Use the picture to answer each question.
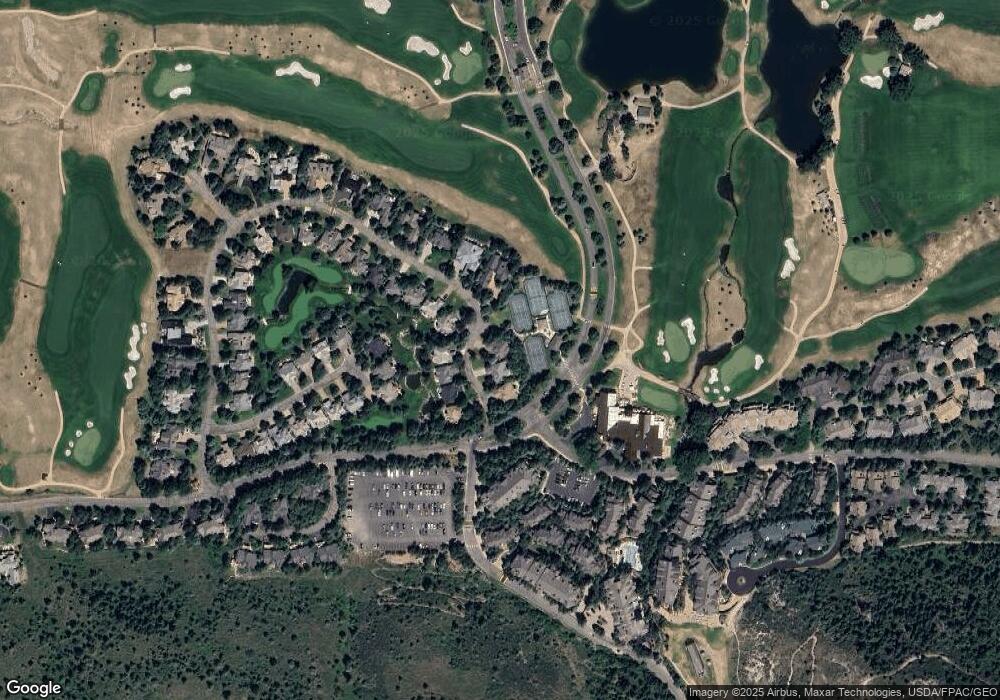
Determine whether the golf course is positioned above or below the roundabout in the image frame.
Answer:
above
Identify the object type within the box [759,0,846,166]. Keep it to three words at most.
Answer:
pond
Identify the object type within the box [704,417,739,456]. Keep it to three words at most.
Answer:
building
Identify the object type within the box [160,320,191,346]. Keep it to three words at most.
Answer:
house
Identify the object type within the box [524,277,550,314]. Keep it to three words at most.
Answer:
tennis court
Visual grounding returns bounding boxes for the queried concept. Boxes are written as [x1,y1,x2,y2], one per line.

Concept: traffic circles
[728,567,757,596]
